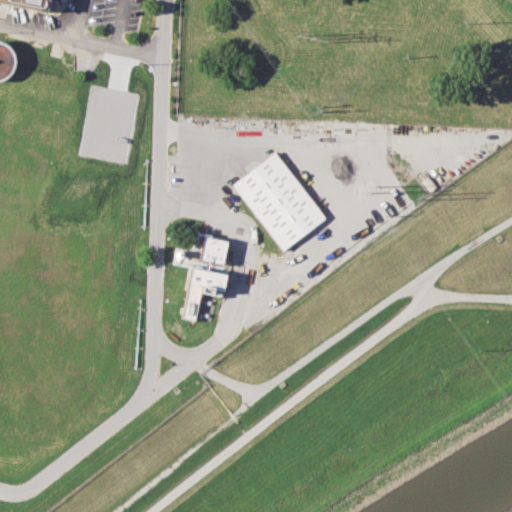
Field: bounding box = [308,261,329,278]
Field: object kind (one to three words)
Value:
vehicle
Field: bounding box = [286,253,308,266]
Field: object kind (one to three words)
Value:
vehicle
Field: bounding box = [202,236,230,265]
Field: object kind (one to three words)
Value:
building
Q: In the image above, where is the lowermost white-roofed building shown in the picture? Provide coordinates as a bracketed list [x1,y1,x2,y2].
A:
[180,269,228,322]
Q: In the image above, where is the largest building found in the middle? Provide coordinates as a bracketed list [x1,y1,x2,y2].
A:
[234,152,326,252]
